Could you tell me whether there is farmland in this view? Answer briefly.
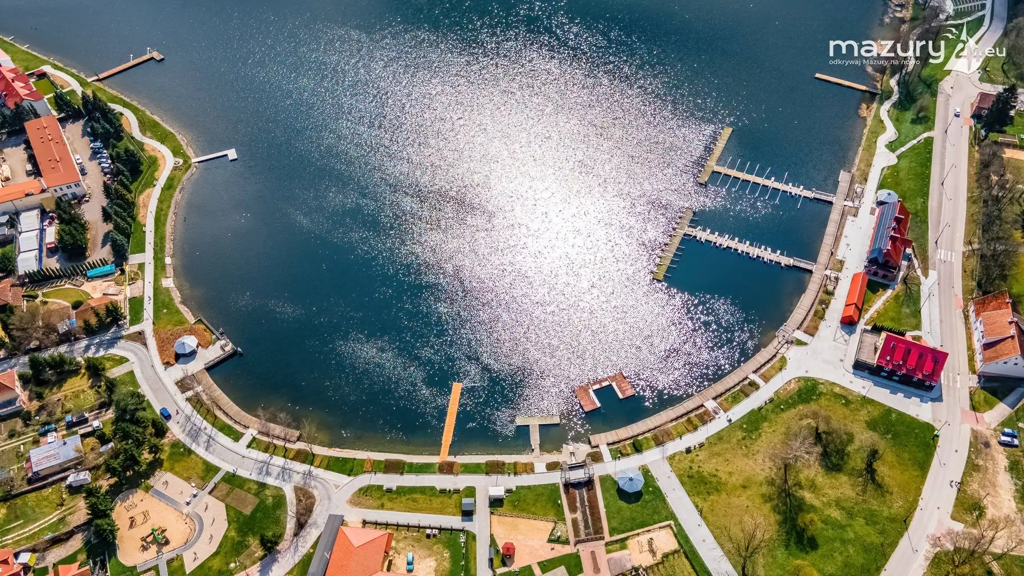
No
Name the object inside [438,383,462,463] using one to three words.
pier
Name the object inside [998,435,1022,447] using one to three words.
vehicle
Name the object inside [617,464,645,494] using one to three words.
gazebo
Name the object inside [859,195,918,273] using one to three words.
building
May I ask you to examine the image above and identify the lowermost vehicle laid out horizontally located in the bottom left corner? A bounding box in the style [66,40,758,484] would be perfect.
[62,469,92,485]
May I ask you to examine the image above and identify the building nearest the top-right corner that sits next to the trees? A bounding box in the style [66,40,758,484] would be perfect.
[968,91,997,128]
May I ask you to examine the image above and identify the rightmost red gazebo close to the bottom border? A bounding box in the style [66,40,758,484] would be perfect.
[502,542,516,557]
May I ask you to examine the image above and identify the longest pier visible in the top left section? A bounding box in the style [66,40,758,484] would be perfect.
[88,45,164,82]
